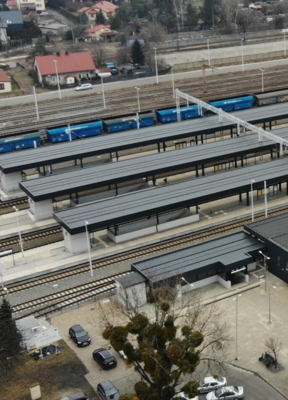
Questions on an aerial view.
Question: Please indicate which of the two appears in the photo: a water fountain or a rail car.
rail car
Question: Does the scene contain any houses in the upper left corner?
Yes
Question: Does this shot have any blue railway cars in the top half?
Yes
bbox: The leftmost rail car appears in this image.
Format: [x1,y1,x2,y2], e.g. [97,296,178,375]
[0,129,50,153]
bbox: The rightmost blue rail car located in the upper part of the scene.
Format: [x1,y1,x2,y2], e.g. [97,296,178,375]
[209,94,255,114]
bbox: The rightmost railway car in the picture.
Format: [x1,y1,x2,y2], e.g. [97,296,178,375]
[252,87,288,106]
